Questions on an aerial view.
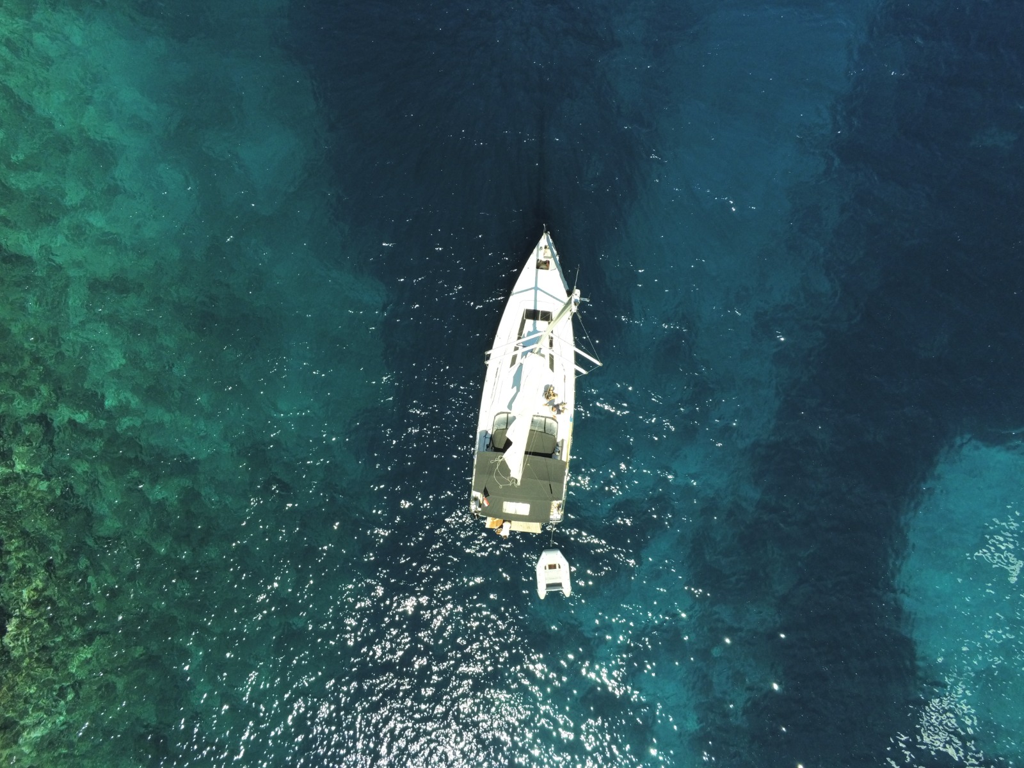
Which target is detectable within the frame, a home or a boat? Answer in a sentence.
Looking from above, you can make out a boat.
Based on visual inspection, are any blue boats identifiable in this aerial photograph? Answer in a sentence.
No, I can't see a single blue boat in this photo.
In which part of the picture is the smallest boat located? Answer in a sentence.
The smallest boat appears toward the bottom of the photo.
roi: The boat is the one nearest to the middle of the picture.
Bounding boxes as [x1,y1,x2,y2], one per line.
[471,224,604,534]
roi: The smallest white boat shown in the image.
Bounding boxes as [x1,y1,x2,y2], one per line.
[536,548,573,598]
